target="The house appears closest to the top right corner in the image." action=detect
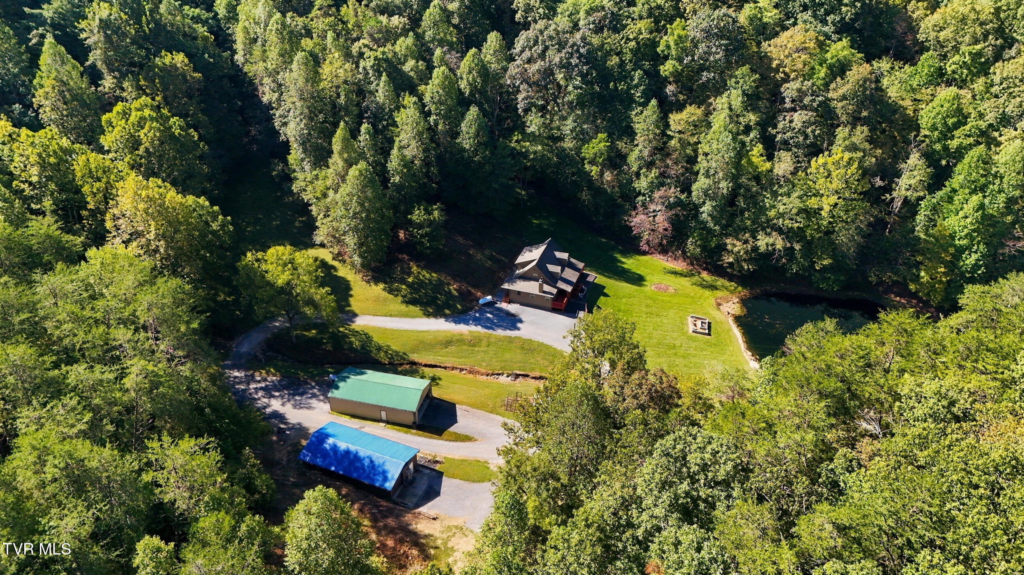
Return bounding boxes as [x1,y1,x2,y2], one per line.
[501,238,584,311]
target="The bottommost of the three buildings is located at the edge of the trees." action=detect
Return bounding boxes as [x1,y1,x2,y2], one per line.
[299,421,421,501]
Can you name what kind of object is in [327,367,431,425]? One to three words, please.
building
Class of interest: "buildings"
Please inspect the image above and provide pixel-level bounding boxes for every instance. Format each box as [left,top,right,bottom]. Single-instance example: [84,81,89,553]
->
[327,367,431,425]
[299,421,421,501]
[501,238,584,311]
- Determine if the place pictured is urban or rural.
rural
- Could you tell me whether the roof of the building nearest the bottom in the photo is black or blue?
blue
